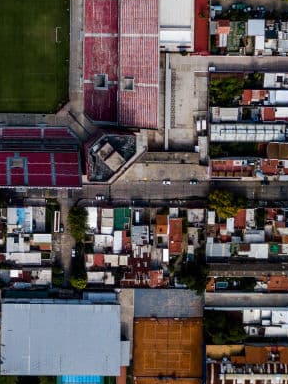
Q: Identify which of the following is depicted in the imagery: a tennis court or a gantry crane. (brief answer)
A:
tennis court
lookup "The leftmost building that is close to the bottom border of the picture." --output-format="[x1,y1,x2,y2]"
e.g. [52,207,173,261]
[0,294,120,375]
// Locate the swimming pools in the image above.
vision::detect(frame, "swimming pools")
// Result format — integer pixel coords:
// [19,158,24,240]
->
[216,281,228,288]
[63,376,100,384]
